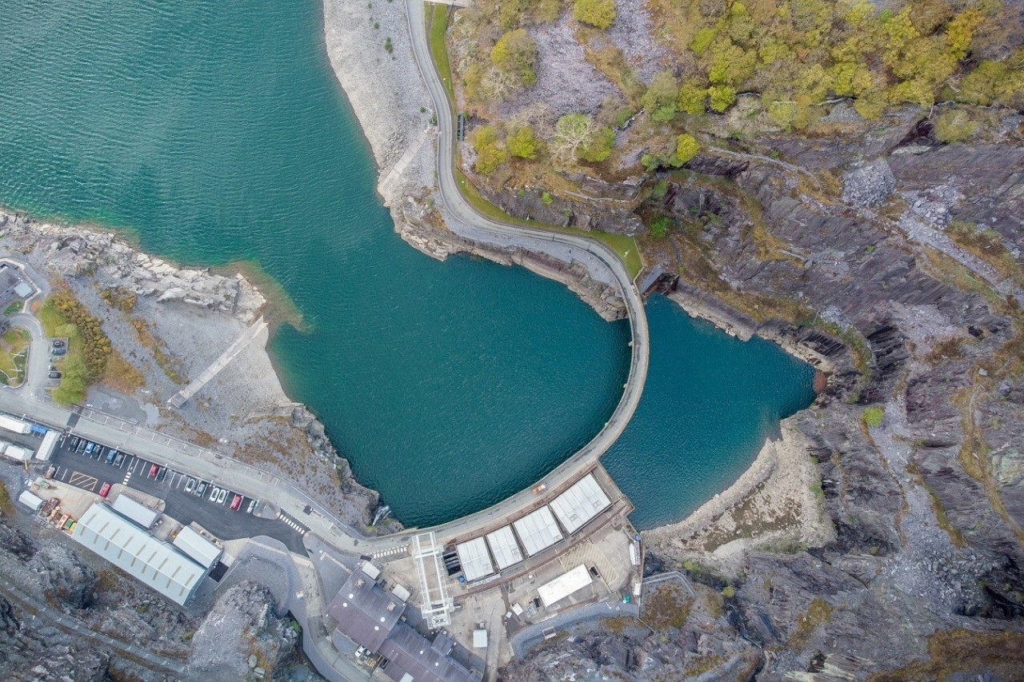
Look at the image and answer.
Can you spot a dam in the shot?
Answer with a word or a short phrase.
Yes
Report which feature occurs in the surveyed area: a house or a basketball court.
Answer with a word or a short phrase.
house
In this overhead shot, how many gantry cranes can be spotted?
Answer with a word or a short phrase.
1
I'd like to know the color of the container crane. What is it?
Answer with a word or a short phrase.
white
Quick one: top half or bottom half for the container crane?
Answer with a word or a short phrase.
bottom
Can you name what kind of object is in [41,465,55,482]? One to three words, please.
vehicle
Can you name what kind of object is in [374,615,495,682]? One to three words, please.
building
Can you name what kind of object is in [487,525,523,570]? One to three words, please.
house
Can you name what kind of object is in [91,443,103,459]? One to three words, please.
vehicle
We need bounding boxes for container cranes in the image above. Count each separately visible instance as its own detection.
[412,531,462,629]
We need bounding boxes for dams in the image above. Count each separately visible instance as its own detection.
[417,289,650,545]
